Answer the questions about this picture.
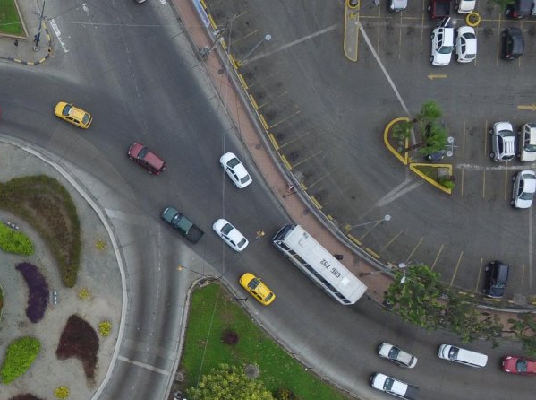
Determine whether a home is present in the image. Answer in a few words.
No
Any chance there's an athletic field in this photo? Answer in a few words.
No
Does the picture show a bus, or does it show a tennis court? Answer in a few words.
bus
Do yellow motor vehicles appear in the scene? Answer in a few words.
Yes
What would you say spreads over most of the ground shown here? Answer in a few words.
paved ground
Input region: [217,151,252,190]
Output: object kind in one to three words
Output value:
car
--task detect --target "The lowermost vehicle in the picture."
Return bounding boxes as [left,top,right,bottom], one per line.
[368,373,421,400]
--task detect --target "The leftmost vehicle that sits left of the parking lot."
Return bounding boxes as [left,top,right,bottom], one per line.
[51,102,94,127]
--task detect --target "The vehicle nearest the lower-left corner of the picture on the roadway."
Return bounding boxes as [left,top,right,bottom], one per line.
[159,206,207,247]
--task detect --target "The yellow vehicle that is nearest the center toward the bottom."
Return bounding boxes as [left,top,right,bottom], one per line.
[236,272,277,308]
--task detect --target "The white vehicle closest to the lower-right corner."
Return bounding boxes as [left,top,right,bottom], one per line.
[435,340,494,367]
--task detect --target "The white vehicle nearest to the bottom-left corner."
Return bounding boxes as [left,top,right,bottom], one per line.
[210,217,251,254]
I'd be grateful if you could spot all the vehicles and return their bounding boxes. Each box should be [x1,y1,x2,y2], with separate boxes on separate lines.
[125,144,167,175]
[490,121,516,163]
[431,16,459,68]
[373,341,421,370]
[455,0,477,16]
[265,218,365,303]
[210,217,251,254]
[217,151,252,190]
[435,340,494,367]
[484,259,509,299]
[517,122,536,163]
[455,25,478,65]
[501,26,524,62]
[429,0,451,20]
[368,373,421,400]
[425,146,446,163]
[159,206,207,247]
[513,169,536,210]
[236,272,277,308]
[51,102,94,127]
[387,0,406,13]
